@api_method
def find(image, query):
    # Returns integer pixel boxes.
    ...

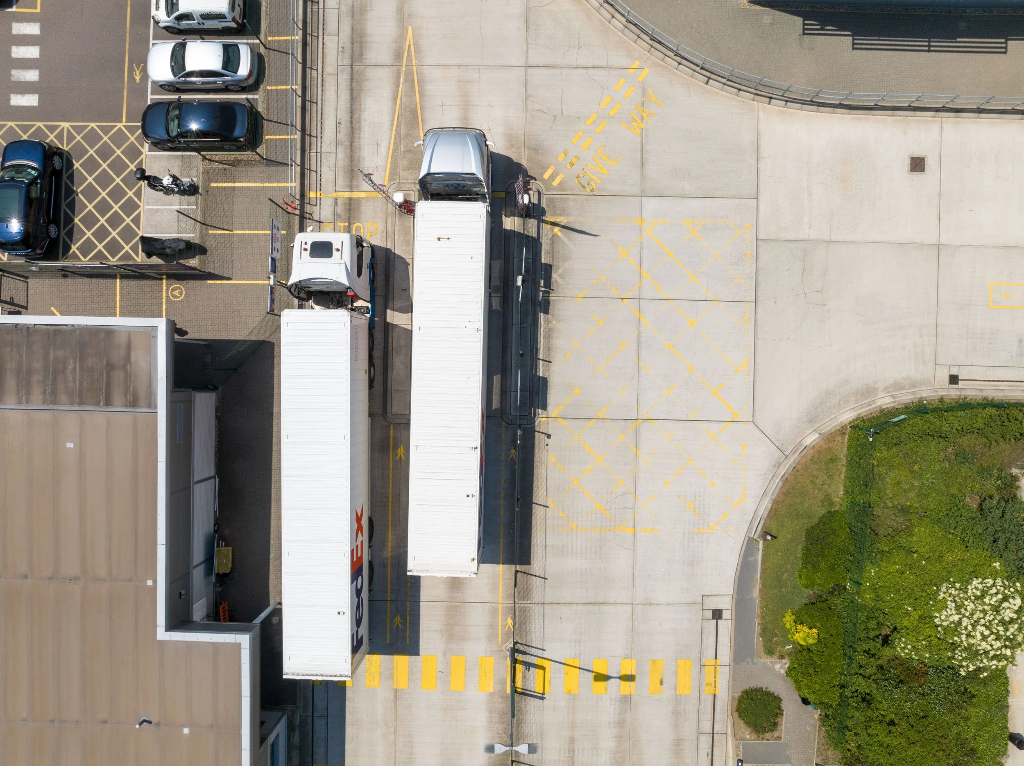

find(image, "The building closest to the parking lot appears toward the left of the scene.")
[0,316,288,766]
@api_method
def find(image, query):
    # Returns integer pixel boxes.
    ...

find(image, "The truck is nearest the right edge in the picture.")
[408,126,494,576]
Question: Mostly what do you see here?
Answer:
paved ground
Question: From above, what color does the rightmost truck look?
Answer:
white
